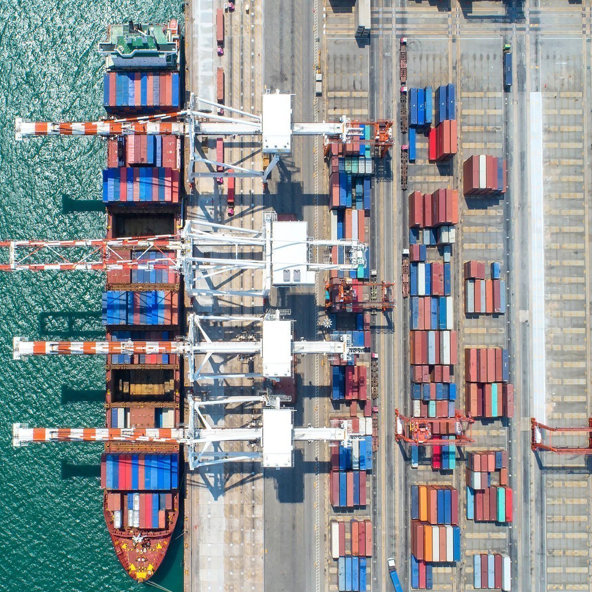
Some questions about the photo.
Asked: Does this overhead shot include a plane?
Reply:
No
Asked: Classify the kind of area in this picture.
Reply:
port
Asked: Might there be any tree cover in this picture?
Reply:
No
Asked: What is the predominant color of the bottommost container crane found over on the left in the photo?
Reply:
white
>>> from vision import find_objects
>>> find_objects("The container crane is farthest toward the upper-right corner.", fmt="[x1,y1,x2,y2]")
[323,120,395,162]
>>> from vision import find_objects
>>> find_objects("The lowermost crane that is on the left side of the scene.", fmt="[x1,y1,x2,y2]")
[11,384,366,472]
